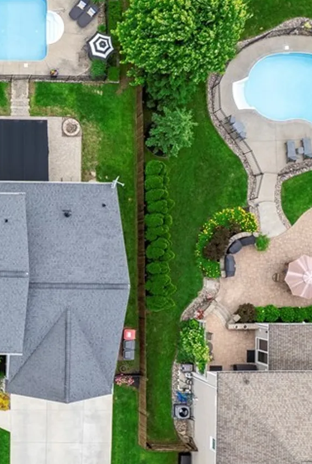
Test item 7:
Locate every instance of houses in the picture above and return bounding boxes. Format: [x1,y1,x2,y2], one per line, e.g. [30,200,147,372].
[192,322,312,464]
[0,177,131,403]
